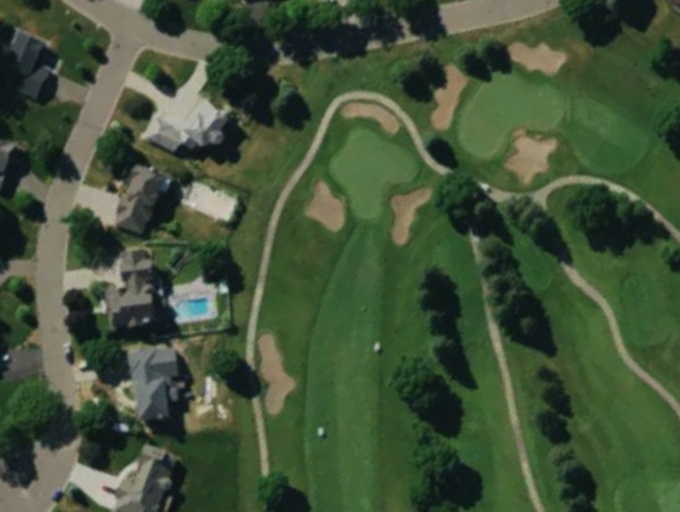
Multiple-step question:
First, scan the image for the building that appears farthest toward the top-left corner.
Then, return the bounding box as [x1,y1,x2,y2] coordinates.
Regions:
[10,27,59,102]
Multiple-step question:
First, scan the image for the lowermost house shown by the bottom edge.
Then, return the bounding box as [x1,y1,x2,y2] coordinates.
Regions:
[111,446,172,512]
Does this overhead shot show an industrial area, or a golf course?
golf course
